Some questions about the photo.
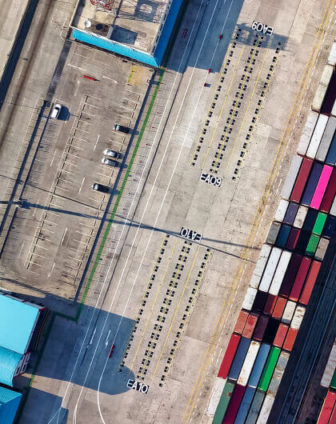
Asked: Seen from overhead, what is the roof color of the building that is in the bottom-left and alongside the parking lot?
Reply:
blue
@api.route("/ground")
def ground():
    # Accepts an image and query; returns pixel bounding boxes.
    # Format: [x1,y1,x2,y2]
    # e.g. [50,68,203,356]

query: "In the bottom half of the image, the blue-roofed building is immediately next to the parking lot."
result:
[0,281,56,383]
